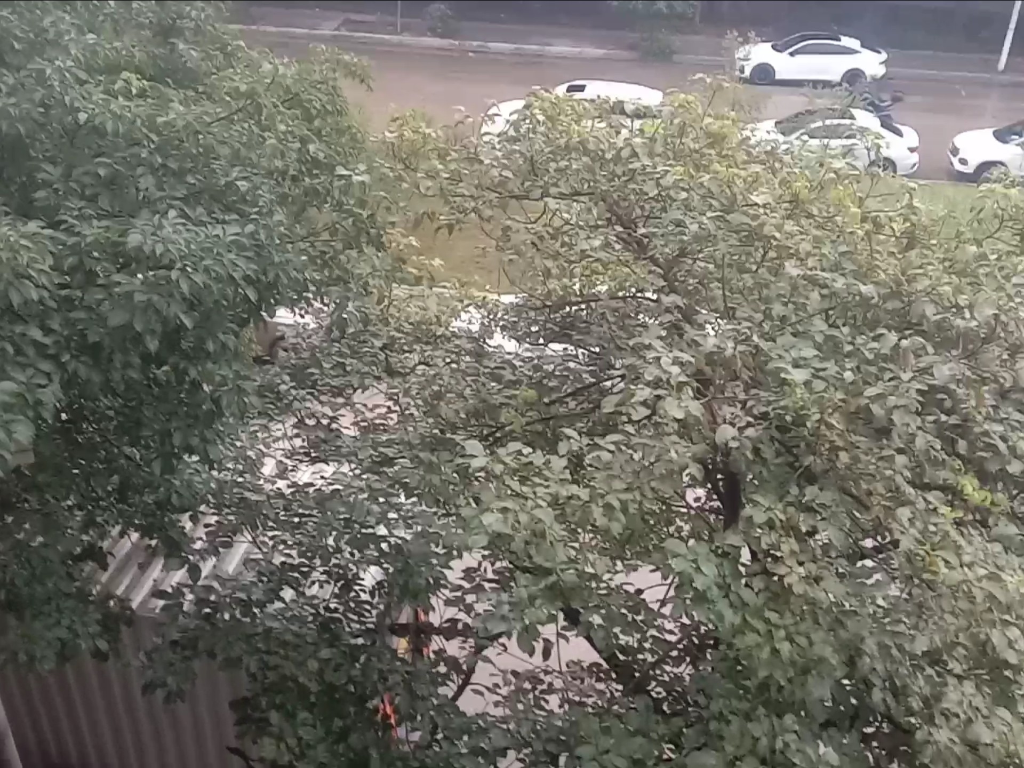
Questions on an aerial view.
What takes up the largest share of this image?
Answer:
trees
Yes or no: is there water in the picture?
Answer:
No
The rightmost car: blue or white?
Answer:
white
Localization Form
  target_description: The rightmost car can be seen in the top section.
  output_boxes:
[945,116,1024,185]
